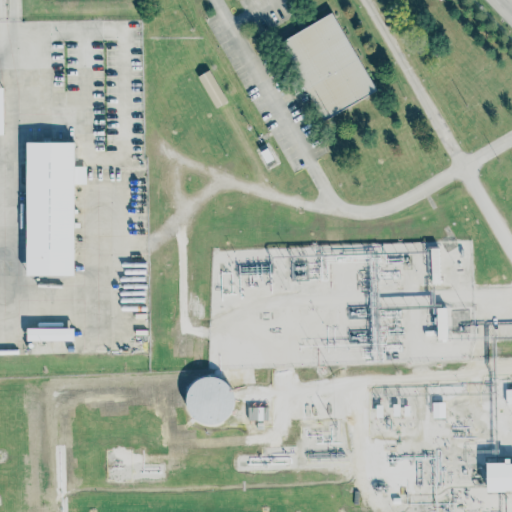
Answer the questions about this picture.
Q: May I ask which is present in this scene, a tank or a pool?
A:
tank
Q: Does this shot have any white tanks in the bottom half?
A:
Yes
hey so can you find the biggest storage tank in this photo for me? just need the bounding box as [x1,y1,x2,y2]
[186,376,245,428]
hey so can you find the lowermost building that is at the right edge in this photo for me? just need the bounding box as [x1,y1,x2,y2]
[478,447,512,494]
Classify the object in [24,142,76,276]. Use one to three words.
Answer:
building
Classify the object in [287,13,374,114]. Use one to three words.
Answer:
building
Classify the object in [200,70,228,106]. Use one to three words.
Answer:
shed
